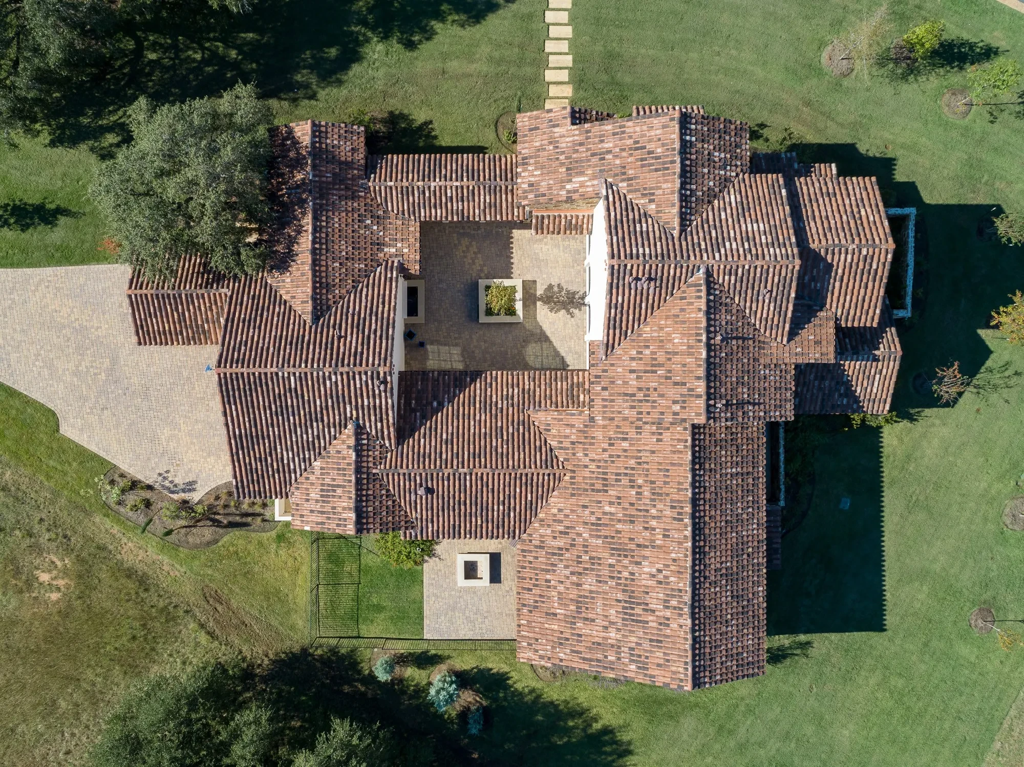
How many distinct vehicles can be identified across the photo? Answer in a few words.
zero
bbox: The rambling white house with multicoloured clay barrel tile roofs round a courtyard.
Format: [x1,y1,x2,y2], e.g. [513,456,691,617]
[124,104,905,693]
